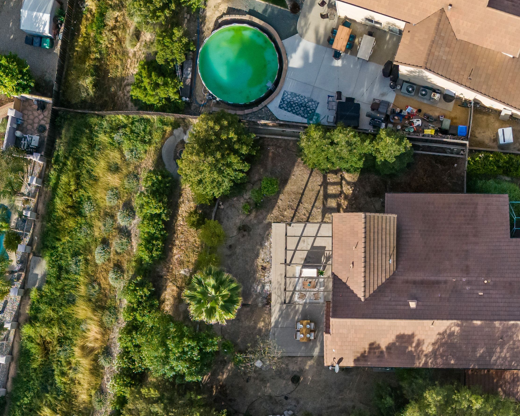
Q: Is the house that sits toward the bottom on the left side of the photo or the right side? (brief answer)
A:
right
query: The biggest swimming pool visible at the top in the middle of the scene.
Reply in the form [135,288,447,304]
[197,22,283,108]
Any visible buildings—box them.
[334,0,520,114]
[20,0,61,39]
[323,193,520,403]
